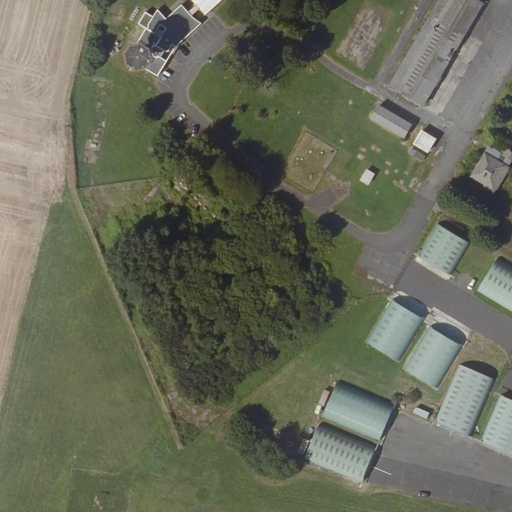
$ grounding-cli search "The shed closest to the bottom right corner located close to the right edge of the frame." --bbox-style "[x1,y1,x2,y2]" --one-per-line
[482,396,512,454]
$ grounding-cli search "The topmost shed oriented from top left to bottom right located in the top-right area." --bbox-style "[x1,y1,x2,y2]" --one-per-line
[370,105,413,139]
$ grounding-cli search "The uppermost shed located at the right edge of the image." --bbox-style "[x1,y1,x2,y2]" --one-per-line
[388,0,488,106]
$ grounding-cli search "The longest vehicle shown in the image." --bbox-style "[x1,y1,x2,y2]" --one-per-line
[313,389,329,415]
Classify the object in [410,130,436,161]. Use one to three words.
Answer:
building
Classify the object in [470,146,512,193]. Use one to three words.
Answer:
house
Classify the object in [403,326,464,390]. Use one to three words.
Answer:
shed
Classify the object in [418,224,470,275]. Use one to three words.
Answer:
shed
